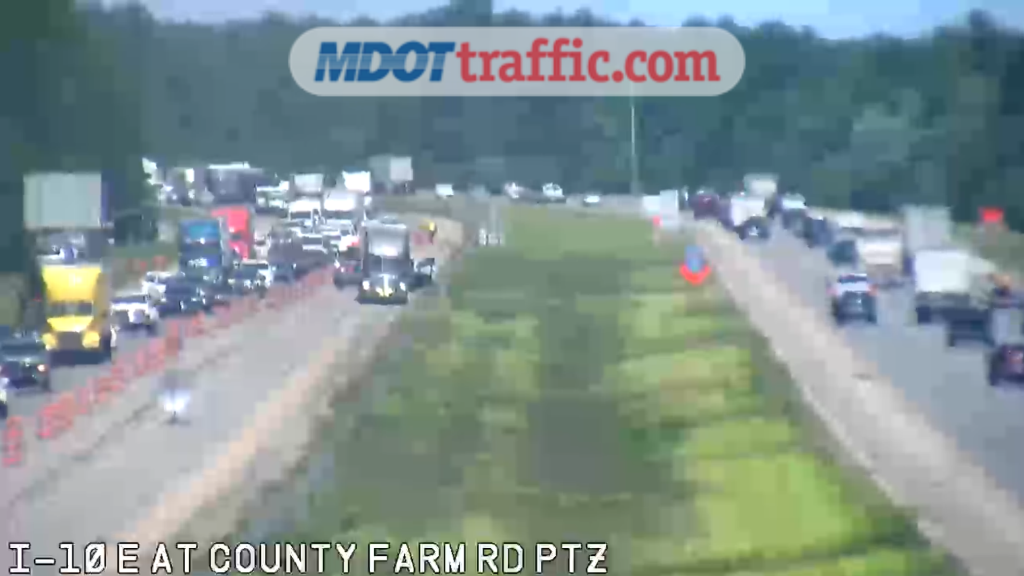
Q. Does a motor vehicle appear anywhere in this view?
Yes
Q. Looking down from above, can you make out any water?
No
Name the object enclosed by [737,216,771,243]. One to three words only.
car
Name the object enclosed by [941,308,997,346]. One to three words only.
car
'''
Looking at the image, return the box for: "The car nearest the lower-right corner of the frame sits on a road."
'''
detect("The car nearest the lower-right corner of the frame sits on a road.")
[981,340,1024,385]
